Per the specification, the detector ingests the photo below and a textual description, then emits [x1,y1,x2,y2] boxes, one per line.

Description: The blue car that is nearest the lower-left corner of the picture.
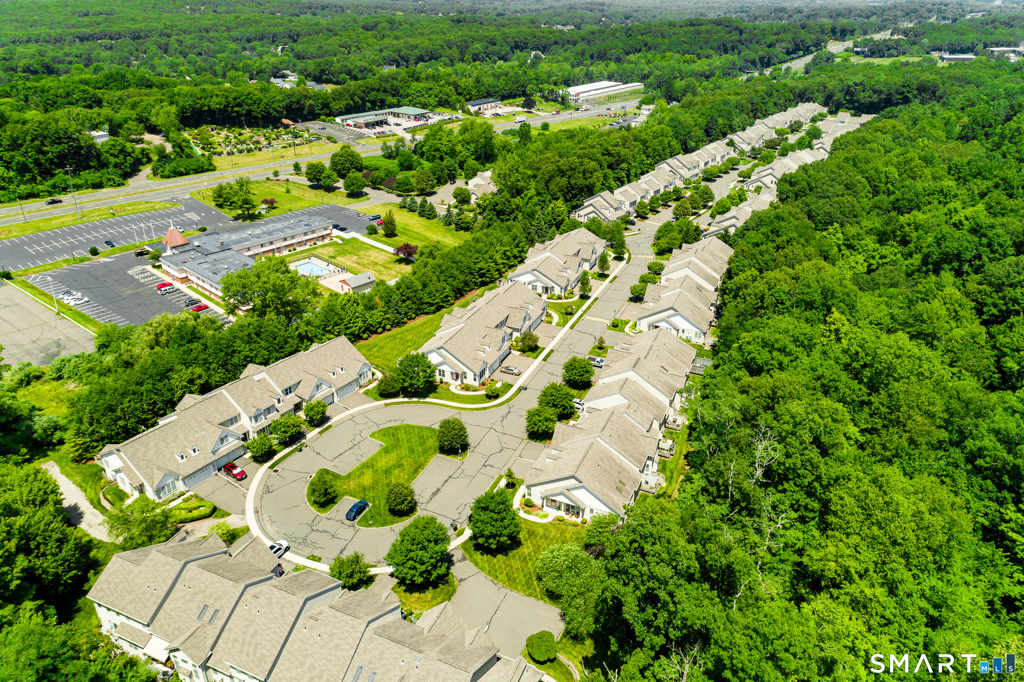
[344,498,368,520]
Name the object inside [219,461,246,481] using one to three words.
car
